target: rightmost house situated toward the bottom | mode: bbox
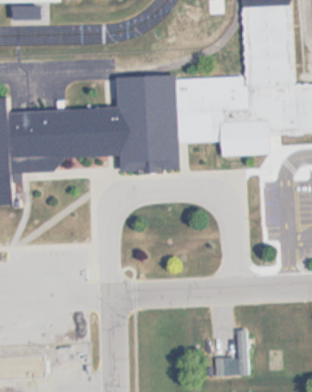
[216,328,252,377]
